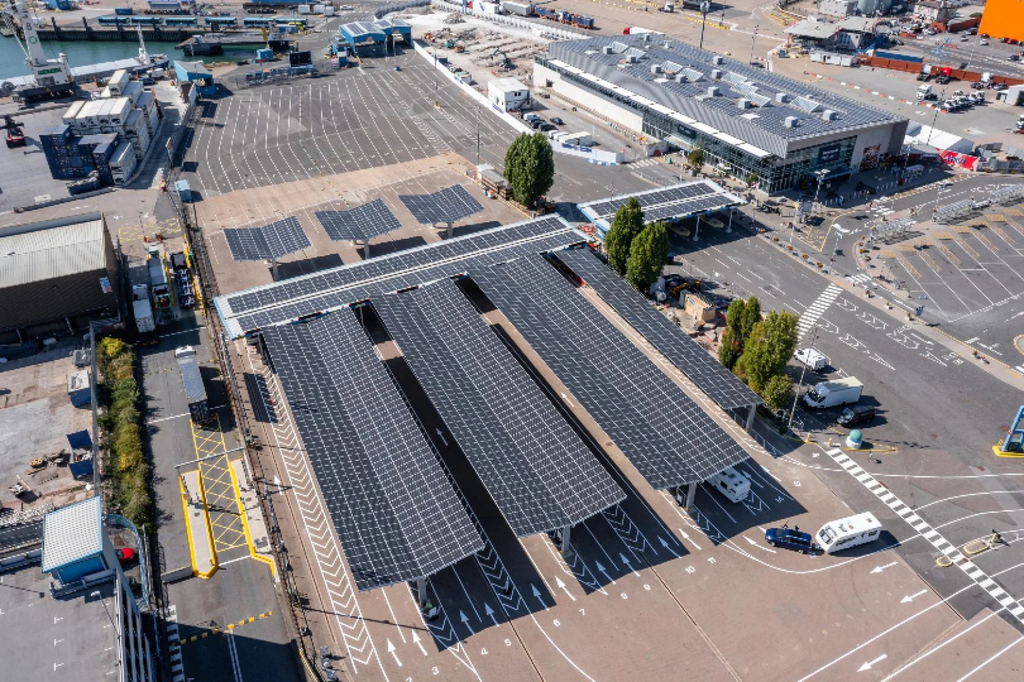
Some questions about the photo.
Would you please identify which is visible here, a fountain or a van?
van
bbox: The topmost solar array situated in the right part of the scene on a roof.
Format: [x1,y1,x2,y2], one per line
[549,36,903,138]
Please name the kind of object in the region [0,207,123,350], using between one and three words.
warehouse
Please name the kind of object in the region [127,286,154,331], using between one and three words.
trailer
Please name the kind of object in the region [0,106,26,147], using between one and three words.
work vehicle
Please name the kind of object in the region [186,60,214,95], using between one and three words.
shed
